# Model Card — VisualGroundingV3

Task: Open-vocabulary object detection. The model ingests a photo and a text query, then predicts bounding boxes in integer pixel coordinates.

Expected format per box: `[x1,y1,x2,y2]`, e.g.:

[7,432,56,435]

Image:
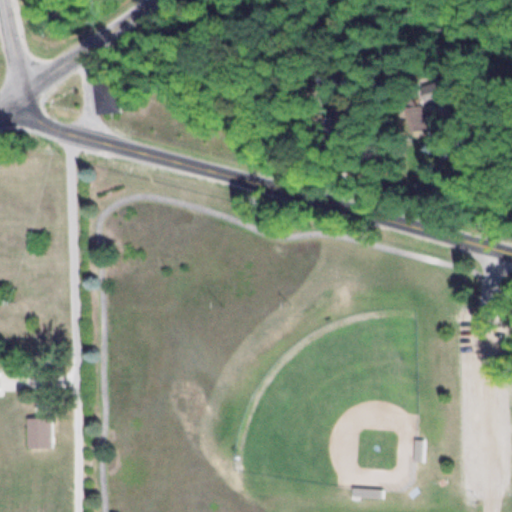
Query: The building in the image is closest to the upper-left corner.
[94,84,120,116]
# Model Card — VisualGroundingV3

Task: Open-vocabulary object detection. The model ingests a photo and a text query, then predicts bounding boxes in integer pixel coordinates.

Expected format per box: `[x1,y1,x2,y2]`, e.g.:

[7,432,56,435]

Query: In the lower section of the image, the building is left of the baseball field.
[28,420,54,450]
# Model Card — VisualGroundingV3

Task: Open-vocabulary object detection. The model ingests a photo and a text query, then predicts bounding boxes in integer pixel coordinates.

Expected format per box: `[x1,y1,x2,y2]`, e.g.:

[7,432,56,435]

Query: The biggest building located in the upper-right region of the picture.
[405,108,430,132]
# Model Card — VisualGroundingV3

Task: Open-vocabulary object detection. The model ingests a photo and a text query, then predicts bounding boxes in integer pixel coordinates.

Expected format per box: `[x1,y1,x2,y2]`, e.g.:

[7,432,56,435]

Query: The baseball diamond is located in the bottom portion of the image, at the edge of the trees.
[240,310,417,492]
